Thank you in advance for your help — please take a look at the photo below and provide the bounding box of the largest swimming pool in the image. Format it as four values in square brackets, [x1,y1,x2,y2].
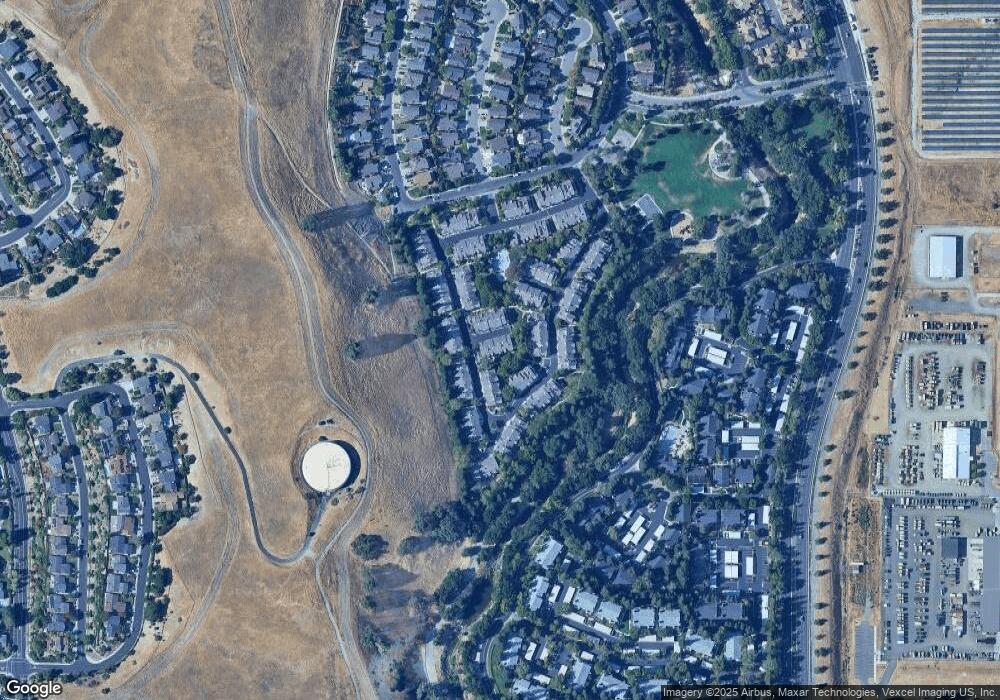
[660,425,694,459]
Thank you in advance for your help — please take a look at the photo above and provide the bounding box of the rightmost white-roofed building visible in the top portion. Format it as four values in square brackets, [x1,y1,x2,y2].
[930,236,957,277]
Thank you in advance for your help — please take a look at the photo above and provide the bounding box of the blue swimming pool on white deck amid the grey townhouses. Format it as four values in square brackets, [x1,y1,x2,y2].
[495,250,514,273]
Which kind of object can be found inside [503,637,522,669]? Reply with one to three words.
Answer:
building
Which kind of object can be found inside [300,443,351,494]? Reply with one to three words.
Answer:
water tank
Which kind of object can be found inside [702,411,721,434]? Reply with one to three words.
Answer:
building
